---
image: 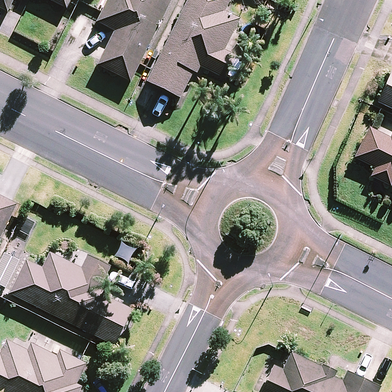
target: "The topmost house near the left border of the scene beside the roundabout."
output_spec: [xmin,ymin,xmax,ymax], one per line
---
[5,252,133,343]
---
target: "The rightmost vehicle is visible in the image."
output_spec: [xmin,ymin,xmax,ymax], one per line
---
[374,358,392,383]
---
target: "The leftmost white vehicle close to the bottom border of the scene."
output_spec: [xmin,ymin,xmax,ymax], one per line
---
[357,352,372,375]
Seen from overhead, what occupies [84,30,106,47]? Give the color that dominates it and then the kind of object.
white car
